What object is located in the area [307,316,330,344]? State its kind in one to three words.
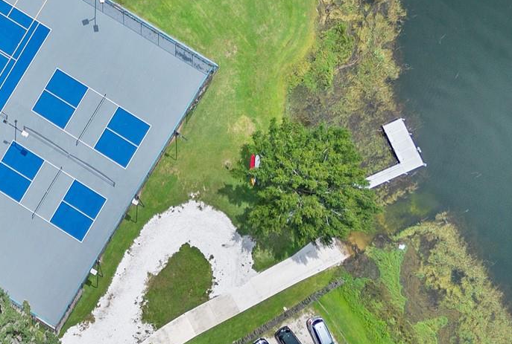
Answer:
car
